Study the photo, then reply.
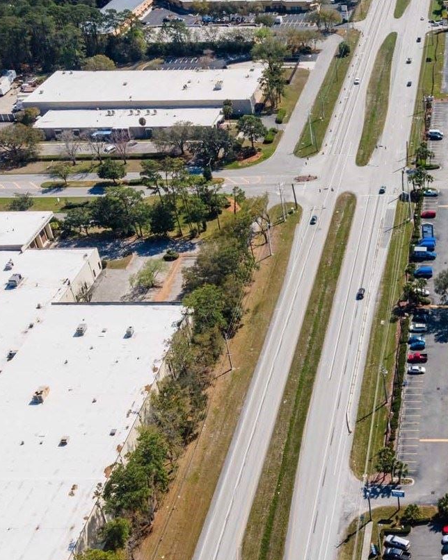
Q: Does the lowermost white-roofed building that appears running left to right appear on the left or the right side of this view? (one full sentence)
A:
The lowermost white-roofed building that appears running left to right sits on the left side.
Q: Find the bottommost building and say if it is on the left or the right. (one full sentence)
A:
The bottommost building appears in the left half of the scene.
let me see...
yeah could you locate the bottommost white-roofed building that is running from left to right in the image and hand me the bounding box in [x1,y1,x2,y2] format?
[23,68,264,143]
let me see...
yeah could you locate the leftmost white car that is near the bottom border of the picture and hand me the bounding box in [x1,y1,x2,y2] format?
[385,535,410,550]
